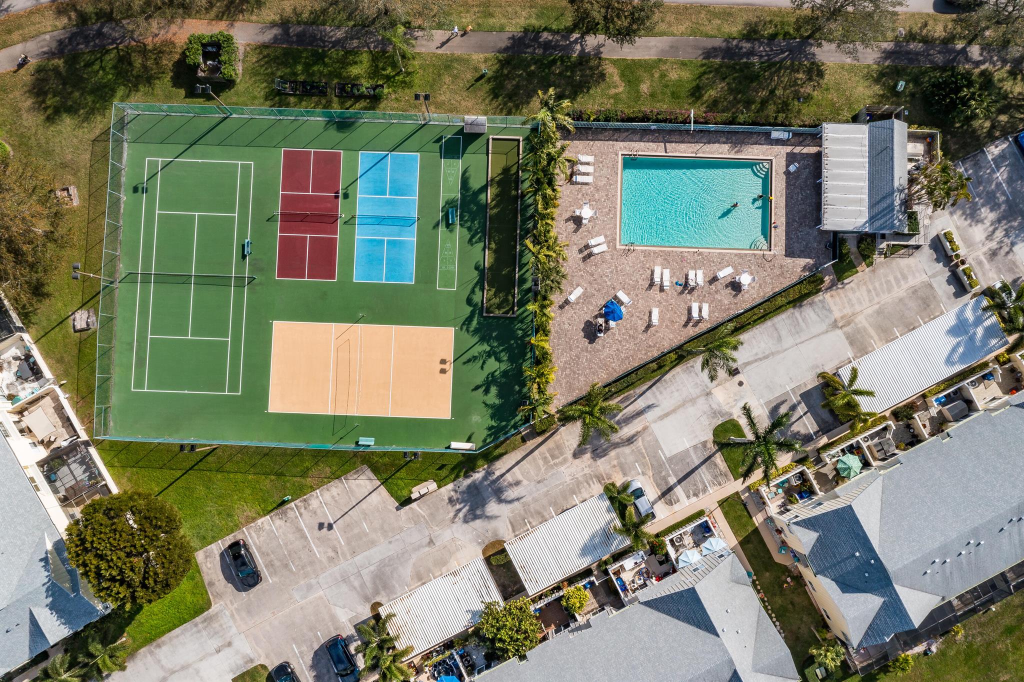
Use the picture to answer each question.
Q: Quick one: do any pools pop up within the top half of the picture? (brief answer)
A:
Yes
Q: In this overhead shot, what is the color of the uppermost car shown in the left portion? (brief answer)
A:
black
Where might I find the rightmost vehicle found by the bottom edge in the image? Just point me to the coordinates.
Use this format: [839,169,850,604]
[322,635,357,682]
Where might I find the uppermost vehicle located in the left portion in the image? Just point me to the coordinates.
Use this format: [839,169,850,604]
[225,544,259,589]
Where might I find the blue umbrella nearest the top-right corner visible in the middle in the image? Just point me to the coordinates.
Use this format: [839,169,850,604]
[603,299,625,321]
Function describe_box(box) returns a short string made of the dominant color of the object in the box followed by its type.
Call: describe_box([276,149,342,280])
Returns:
red sports court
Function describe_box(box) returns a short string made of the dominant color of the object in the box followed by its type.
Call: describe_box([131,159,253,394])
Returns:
green tennis court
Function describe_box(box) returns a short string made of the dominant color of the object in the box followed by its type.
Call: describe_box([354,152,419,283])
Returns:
blue sports court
